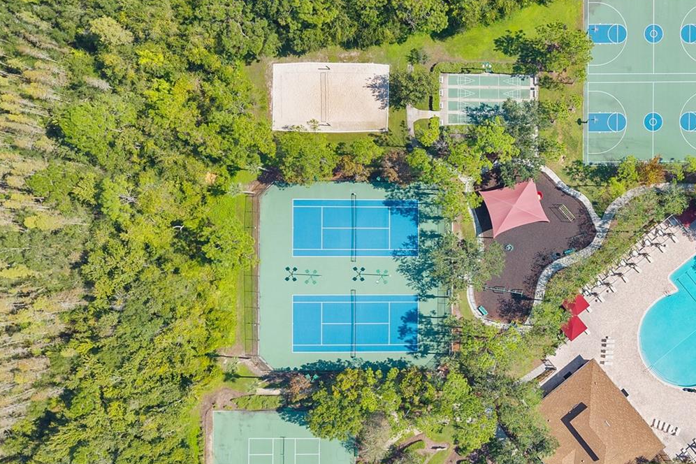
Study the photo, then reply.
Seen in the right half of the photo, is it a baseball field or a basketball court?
basketball court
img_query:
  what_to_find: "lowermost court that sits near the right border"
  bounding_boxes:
[585,78,696,164]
